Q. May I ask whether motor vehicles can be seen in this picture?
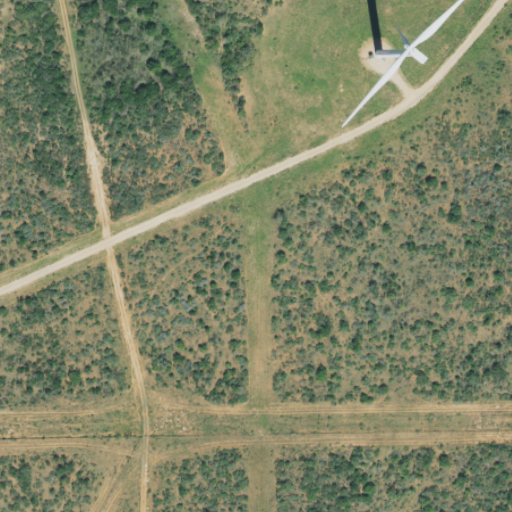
No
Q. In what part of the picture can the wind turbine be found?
top right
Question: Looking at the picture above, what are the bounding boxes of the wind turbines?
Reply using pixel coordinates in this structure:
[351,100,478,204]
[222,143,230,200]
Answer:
[343,0,464,126]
